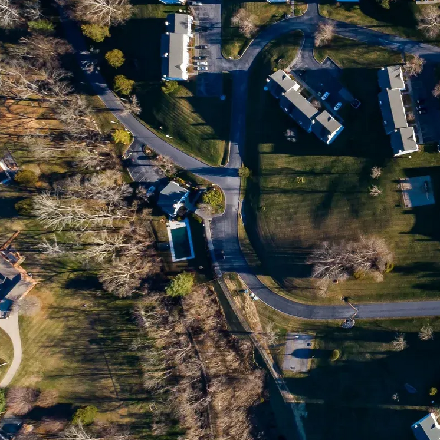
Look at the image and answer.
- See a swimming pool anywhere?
Yes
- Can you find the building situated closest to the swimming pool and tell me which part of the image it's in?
center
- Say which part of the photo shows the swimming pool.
center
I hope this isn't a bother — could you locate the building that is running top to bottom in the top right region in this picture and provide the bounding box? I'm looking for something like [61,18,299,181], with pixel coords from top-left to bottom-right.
[376,64,420,154]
